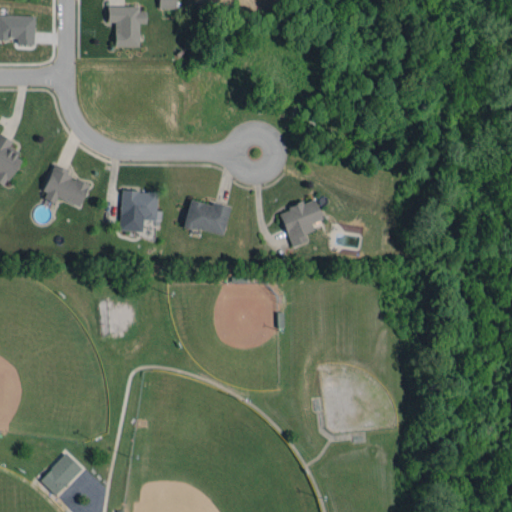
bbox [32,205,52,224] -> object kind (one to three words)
swimming pool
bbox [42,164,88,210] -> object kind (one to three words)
house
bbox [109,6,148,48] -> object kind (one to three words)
house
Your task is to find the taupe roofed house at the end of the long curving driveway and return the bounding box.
[280,199,326,248]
